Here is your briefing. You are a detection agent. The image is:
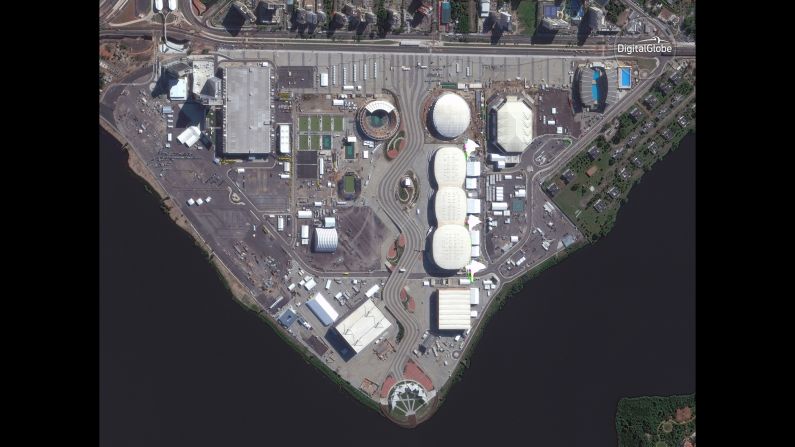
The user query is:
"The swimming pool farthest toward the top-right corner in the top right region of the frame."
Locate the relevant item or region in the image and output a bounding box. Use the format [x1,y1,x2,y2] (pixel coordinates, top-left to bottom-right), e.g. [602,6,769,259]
[618,65,631,88]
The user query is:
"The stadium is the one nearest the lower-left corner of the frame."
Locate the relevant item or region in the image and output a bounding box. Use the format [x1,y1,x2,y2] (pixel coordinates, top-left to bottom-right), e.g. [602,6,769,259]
[335,299,391,355]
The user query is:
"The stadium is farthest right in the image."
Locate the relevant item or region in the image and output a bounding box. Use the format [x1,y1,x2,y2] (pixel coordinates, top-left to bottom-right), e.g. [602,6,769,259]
[575,63,617,111]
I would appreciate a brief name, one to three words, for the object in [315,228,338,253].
building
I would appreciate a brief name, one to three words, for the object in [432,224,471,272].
stadium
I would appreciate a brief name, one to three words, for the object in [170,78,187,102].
building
